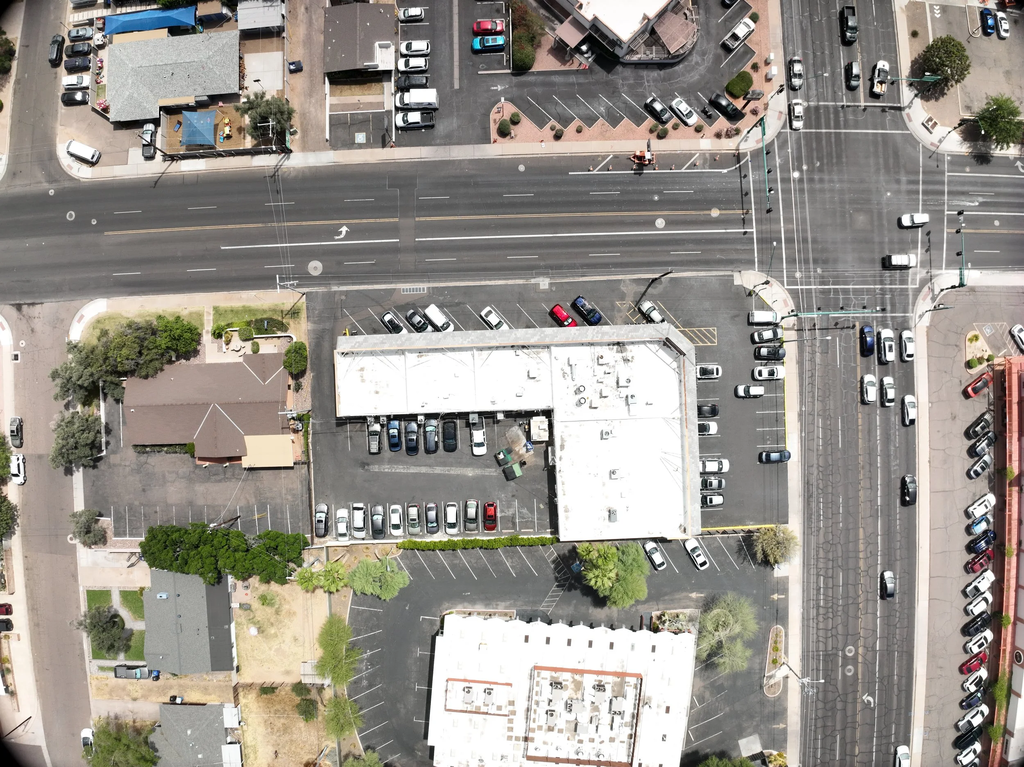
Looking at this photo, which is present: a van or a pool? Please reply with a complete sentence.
It is a van that can be seen here.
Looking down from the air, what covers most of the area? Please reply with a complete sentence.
The bulk of the photo consists of paved ground.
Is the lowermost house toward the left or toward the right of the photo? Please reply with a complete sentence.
The lowermost house sits on the left side.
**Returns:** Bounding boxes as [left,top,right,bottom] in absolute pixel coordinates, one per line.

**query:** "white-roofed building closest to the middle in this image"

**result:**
[334,322,701,542]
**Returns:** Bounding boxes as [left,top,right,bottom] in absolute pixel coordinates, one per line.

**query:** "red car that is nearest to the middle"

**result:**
[550,302,575,327]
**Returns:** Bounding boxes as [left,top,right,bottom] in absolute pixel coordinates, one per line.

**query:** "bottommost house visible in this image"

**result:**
[154,700,242,767]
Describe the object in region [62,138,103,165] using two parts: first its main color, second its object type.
white vehicle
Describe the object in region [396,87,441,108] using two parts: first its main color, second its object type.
white truck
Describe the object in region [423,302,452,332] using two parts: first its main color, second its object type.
white van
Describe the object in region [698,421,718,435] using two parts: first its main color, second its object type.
white car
